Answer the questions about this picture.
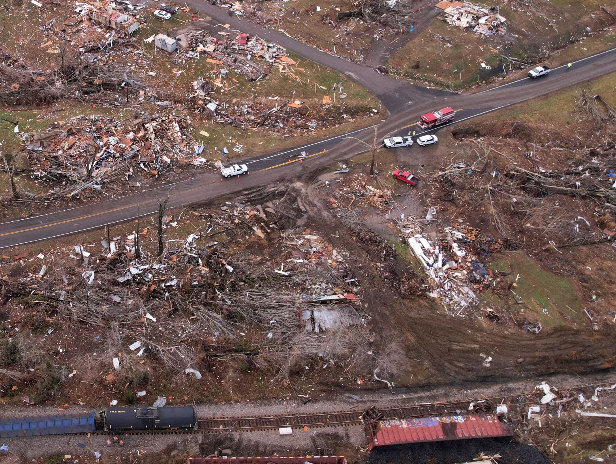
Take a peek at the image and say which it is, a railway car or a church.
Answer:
railway car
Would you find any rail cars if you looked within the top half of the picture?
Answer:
No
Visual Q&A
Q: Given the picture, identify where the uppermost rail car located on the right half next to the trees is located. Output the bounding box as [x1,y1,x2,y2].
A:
[366,399,523,441]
